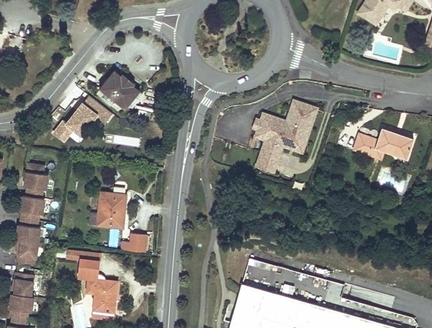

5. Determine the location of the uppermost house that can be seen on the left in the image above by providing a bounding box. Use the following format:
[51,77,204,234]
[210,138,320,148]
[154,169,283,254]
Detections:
[99,70,140,110]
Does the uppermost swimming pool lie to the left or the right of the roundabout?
on its right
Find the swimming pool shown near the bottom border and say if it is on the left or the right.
left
